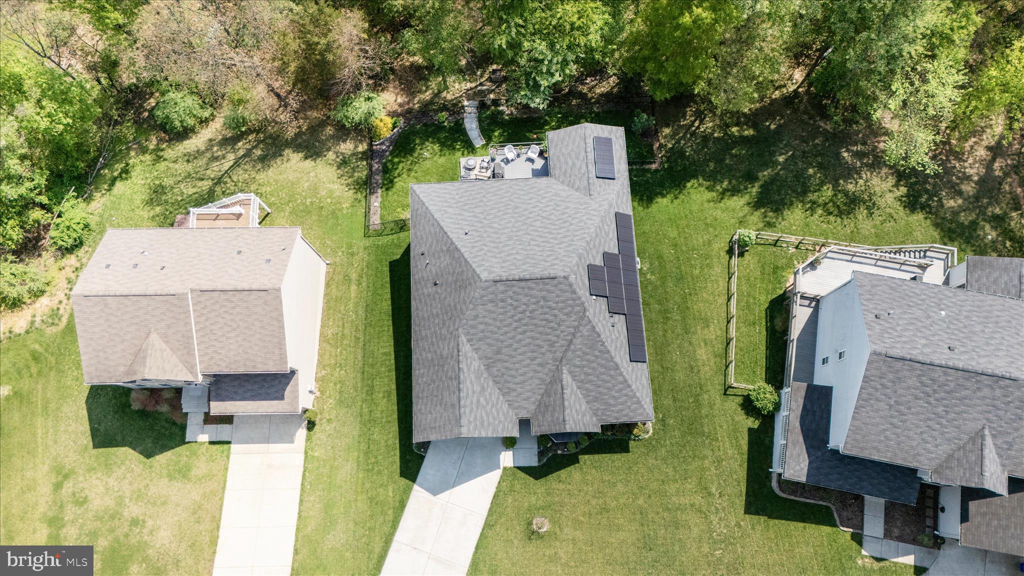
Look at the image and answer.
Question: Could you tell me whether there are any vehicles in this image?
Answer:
No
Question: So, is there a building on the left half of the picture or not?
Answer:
Yes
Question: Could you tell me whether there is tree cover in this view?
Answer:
Yes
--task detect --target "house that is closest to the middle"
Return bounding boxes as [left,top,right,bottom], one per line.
[409,123,656,442]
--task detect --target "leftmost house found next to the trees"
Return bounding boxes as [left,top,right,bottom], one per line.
[72,226,333,415]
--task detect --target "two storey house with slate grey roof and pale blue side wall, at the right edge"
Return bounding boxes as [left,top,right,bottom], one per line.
[768,256,1024,557]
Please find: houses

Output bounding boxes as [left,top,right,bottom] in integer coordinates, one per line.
[72,226,333,415]
[409,123,656,442]
[768,256,1024,557]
